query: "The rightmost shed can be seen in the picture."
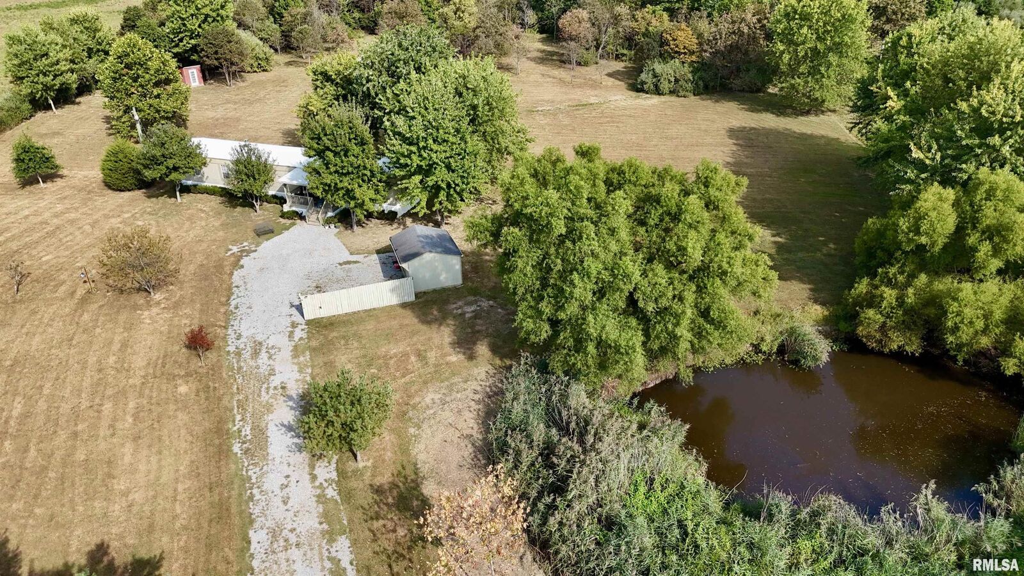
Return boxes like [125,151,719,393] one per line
[396,221,464,292]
